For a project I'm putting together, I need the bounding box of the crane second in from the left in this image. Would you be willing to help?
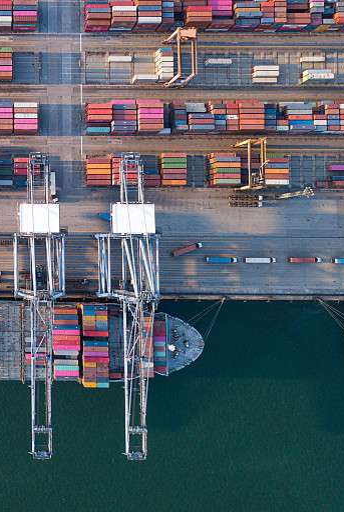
[92,149,163,460]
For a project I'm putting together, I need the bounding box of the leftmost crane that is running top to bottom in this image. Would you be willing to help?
[9,149,70,460]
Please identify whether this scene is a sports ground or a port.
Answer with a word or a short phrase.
port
